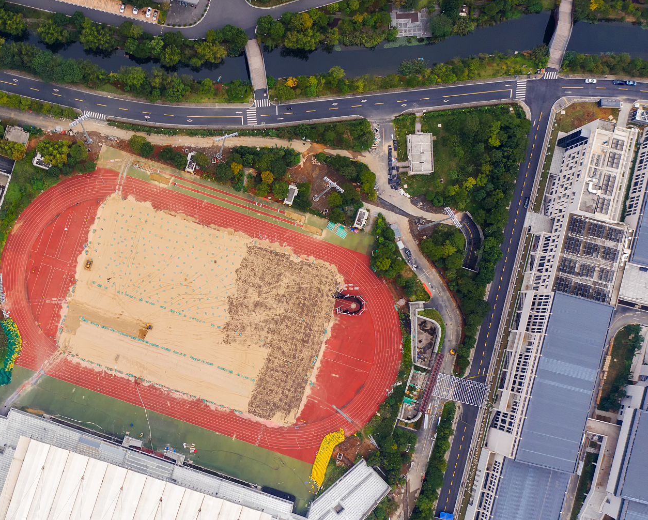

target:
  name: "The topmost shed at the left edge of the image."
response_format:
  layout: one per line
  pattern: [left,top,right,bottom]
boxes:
[5,125,31,148]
